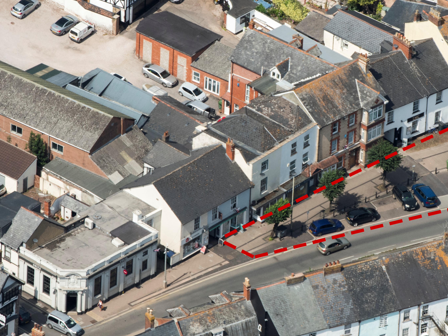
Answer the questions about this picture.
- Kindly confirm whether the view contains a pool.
No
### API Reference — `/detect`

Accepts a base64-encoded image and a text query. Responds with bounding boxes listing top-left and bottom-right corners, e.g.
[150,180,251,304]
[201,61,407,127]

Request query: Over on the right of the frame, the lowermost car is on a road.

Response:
[315,235,351,254]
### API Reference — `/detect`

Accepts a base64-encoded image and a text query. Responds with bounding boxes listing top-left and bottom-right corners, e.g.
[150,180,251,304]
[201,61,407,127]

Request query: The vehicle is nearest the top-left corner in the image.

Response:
[11,0,42,17]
